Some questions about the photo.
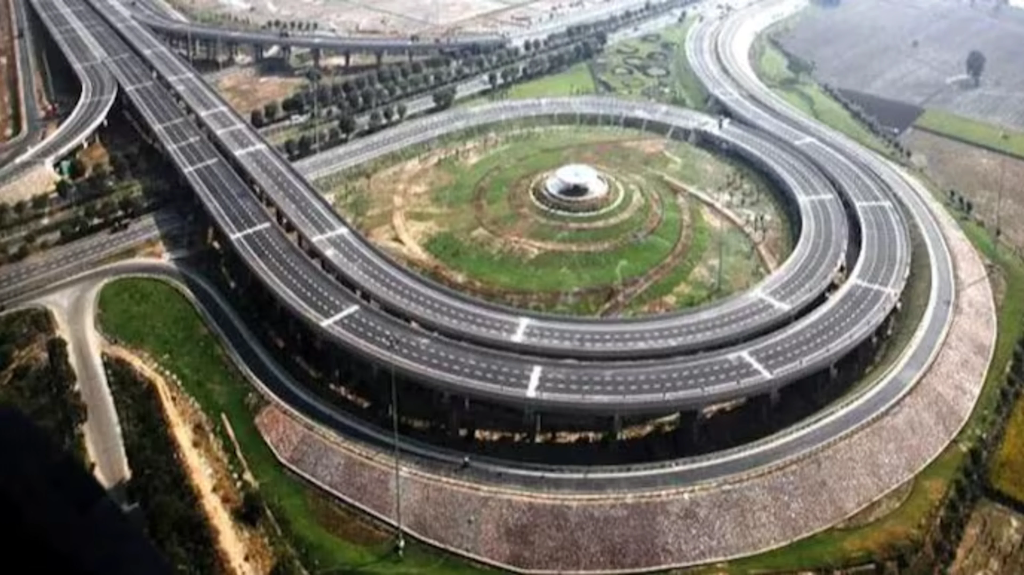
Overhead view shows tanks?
No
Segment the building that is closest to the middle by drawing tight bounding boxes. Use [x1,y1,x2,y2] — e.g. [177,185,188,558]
[540,172,618,212]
